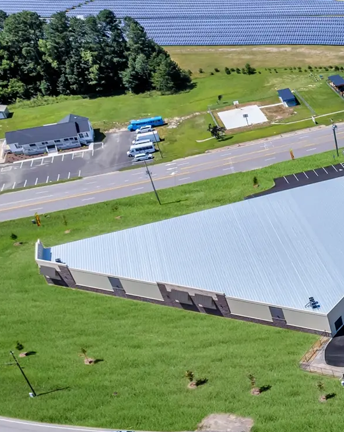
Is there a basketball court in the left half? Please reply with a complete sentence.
No, I see no basketball court in the left half.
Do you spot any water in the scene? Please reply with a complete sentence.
No, there is no water in the image.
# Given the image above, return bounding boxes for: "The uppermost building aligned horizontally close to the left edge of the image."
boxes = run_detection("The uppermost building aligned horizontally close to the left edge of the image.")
[0,119,76,156]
